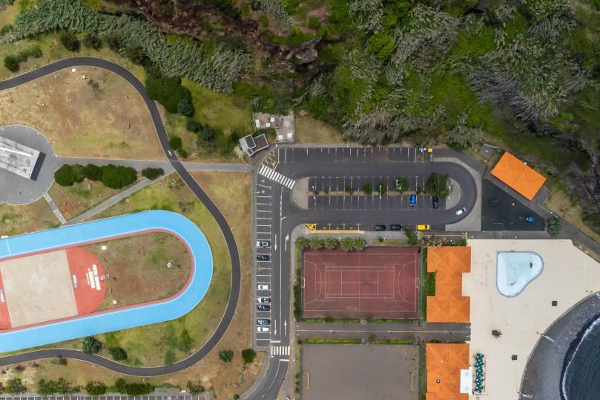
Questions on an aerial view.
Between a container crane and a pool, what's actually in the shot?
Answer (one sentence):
Visible in the photo is a pool.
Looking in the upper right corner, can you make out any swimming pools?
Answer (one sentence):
No, there's no swimming pool to be seen in the upper right corner.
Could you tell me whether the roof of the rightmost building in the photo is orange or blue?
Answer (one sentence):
The roof of the rightmost building is orange.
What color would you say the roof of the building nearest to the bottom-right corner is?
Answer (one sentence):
The color of the roof on the building nearest to the bottom-right corner is orange.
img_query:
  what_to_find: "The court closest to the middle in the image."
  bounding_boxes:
[301,246,420,318]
